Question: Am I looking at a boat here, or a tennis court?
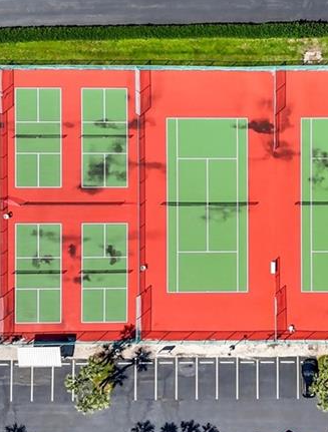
tennis court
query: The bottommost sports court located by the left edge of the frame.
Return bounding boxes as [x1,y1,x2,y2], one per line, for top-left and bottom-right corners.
[12,223,63,323]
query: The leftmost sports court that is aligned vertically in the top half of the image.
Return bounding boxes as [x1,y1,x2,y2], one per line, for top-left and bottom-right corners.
[12,88,63,188]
